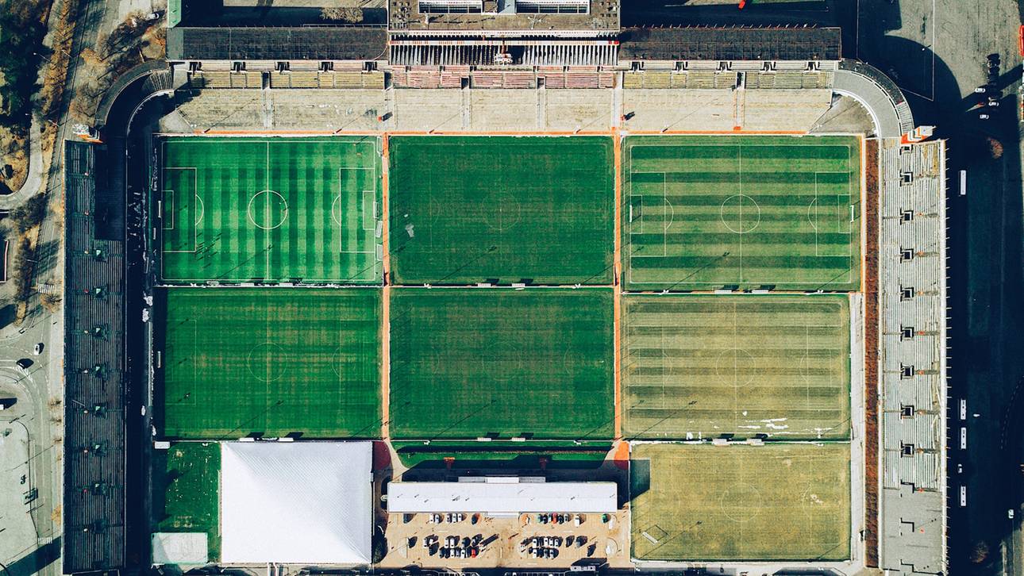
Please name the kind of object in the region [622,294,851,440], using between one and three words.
soccer field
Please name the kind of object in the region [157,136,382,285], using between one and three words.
soccer field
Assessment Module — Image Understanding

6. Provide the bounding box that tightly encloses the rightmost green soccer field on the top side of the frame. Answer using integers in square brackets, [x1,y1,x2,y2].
[622,136,860,291]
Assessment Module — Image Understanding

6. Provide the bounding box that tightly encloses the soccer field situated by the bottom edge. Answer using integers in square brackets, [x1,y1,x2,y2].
[632,442,851,561]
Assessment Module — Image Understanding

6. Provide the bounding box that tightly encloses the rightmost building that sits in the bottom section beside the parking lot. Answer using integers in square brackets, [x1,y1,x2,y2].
[382,473,617,517]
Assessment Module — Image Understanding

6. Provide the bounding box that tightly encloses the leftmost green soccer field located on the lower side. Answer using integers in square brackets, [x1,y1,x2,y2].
[152,287,382,439]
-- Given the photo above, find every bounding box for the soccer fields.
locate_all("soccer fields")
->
[622,294,851,440]
[632,442,851,561]
[622,136,860,291]
[390,136,615,285]
[157,136,382,285]
[152,287,382,439]
[390,287,615,439]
